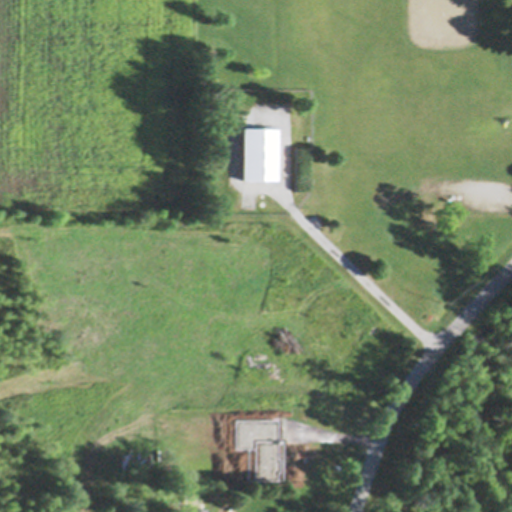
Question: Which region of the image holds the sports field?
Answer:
top right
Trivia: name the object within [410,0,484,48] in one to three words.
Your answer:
sports field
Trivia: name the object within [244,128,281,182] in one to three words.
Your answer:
barn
